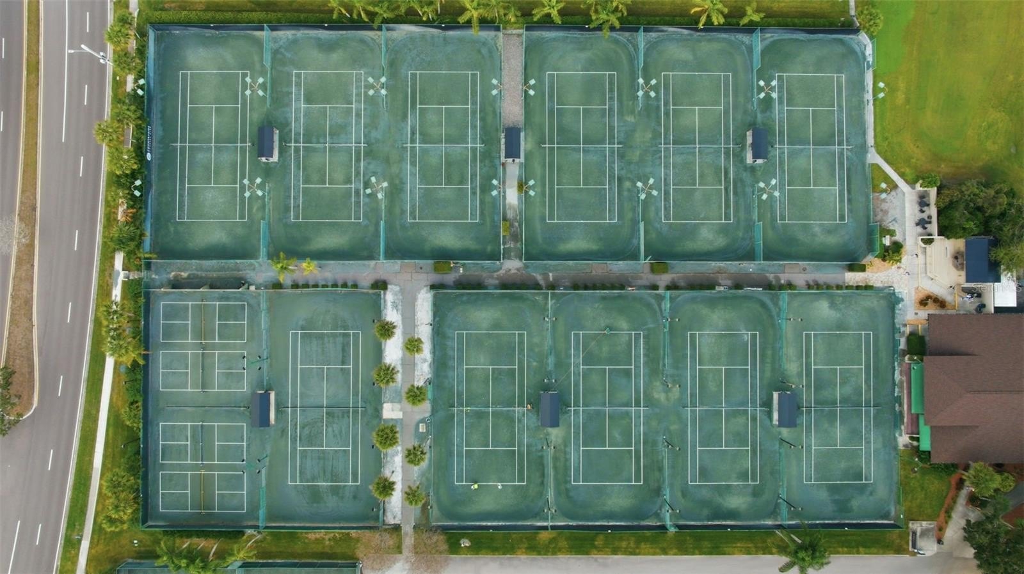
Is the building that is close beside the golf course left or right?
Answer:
right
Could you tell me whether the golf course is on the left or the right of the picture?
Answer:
right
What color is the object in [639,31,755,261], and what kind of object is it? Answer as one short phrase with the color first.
green tennis court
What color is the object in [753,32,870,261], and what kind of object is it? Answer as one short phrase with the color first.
green tennis court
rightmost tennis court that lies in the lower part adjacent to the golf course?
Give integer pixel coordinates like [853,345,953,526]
[780,291,895,523]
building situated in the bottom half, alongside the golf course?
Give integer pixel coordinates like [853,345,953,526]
[910,313,1024,463]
